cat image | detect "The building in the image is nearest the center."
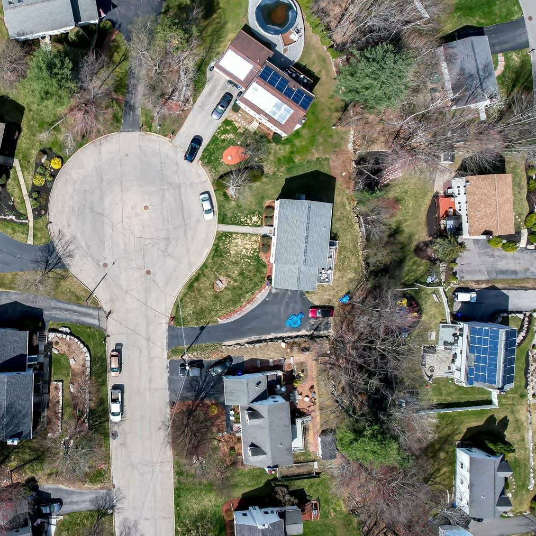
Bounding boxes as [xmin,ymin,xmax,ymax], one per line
[264,199,341,292]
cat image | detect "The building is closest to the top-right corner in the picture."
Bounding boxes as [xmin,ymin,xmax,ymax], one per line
[433,37,500,119]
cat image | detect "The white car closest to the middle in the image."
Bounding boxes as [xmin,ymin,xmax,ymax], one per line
[199,191,214,221]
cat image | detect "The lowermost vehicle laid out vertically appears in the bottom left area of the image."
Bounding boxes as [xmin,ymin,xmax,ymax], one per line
[110,387,124,420]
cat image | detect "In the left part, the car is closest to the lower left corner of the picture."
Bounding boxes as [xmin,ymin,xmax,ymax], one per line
[36,502,64,517]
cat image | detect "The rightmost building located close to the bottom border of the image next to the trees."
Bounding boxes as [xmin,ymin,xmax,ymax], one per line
[453,449,518,523]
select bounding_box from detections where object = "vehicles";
[182,134,204,164]
[109,348,122,375]
[450,289,479,303]
[208,355,234,377]
[36,502,64,517]
[176,362,208,375]
[110,387,124,420]
[199,191,214,221]
[211,91,233,120]
[307,306,334,318]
